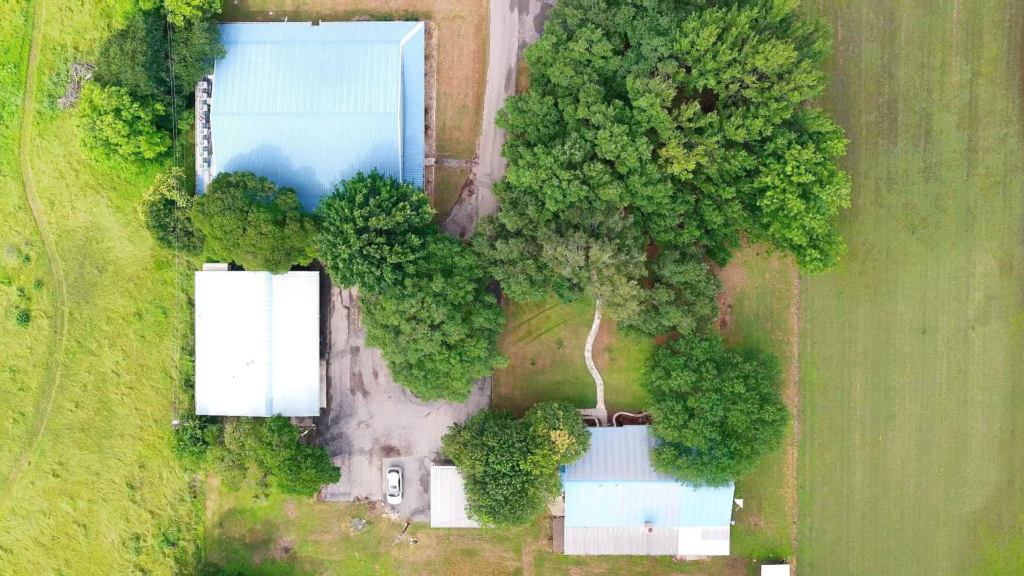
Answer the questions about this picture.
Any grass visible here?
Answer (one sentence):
Yes, grass shows up in the scene.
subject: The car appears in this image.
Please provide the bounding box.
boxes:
[386,467,403,504]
